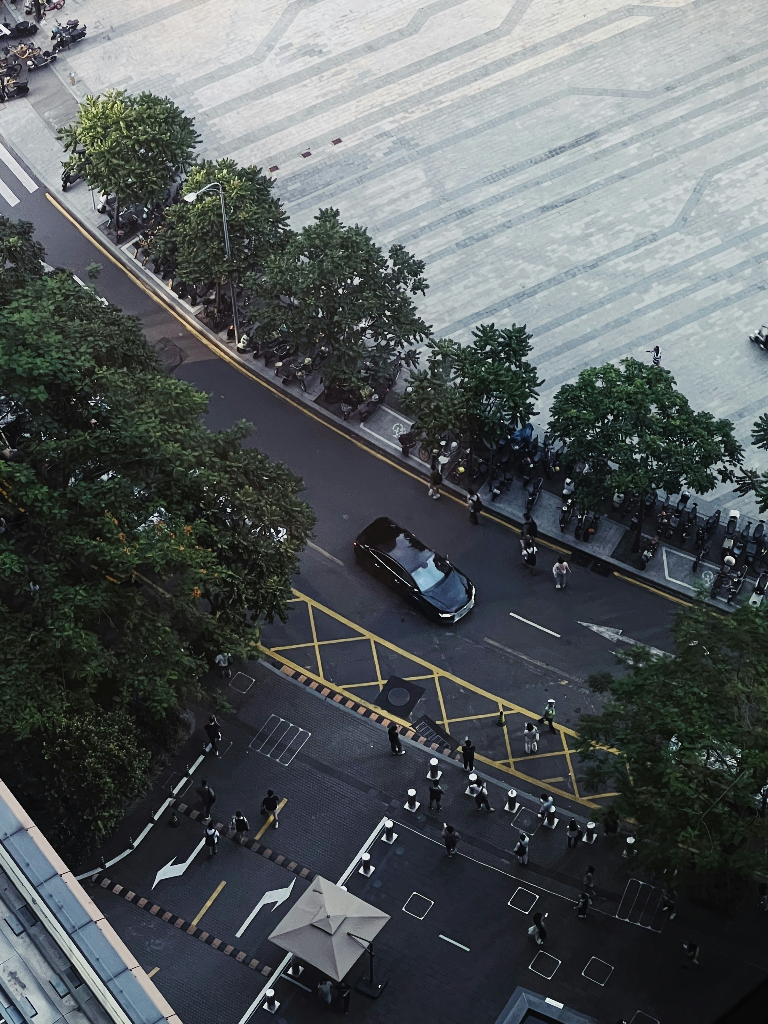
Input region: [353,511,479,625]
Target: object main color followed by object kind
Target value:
black car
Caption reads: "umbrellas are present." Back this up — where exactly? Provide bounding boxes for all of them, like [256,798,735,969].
[268,876,391,998]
